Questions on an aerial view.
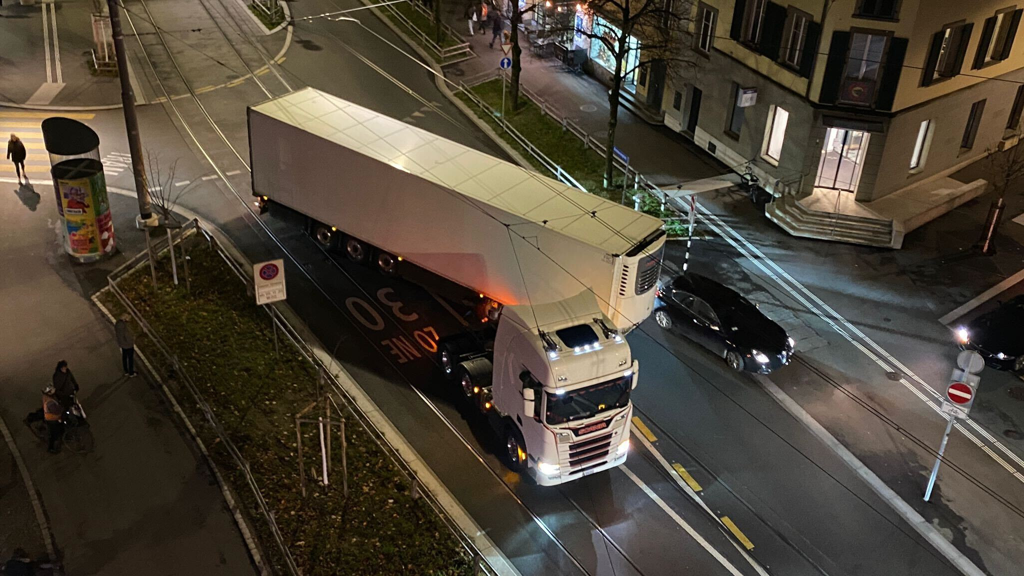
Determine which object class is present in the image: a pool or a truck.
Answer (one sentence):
Looking from above, you can make out a truck.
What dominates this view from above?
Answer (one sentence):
The scene is dominated by paved ground.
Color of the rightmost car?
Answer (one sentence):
In this view, the rightmost car is black.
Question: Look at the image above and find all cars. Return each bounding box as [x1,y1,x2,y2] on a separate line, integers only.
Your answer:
[658,273,800,373]
[955,287,1024,371]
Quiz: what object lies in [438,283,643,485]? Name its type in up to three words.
truck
